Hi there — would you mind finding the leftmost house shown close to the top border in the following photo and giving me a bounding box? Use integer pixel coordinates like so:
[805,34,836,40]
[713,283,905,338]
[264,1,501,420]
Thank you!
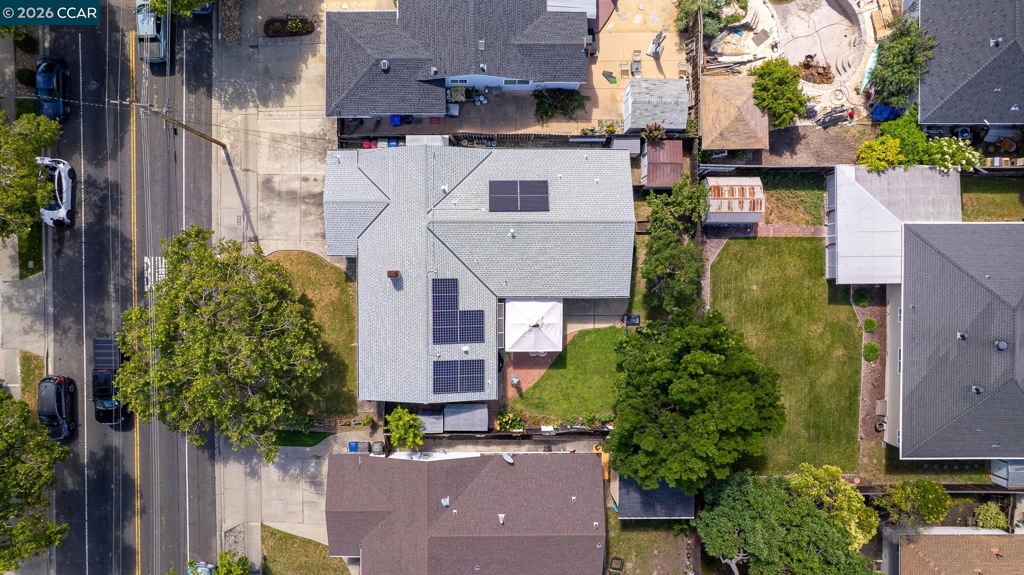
[324,0,596,120]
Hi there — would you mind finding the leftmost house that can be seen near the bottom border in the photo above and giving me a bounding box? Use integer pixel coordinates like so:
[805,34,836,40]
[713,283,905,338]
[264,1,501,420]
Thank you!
[323,449,608,575]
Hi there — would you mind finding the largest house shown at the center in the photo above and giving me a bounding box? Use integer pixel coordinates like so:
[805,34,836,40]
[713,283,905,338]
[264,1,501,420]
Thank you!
[320,144,634,405]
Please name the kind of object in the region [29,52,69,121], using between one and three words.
car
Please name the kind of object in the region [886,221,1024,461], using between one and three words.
house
